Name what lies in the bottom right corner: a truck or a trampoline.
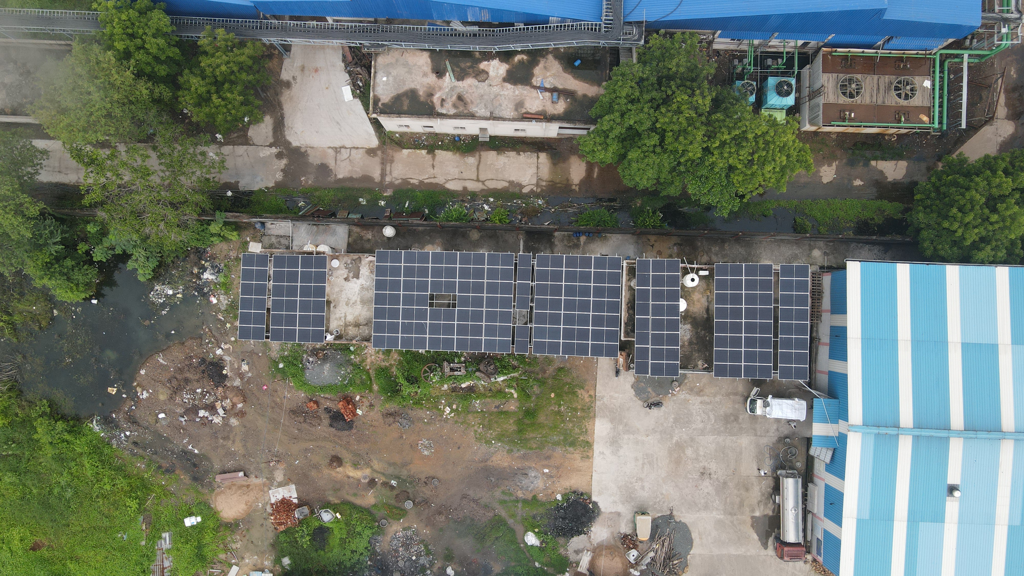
truck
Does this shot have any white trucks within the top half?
No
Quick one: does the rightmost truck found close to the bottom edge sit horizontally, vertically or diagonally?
vertically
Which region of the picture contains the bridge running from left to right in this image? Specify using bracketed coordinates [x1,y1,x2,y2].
[0,0,645,58]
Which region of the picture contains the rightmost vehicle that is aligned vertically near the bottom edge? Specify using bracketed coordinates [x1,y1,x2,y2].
[766,464,804,566]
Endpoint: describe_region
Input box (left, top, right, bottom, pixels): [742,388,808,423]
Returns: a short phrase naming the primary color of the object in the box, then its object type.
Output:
white truck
